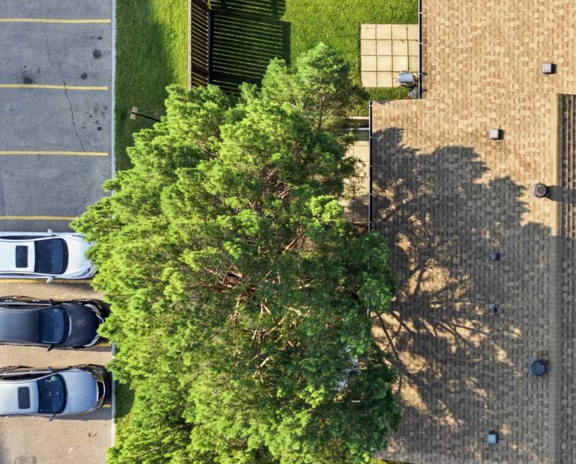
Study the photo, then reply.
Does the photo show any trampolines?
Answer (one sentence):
No, there's no trampoline here.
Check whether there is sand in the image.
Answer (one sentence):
No, there is no sand in the image.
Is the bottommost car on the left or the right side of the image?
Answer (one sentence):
The bottommost car sits on the left side.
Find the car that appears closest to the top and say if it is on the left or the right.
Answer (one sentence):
It is on the left.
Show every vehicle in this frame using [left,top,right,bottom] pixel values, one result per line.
[0,364,108,425]
[0,227,98,286]
[0,299,104,357]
